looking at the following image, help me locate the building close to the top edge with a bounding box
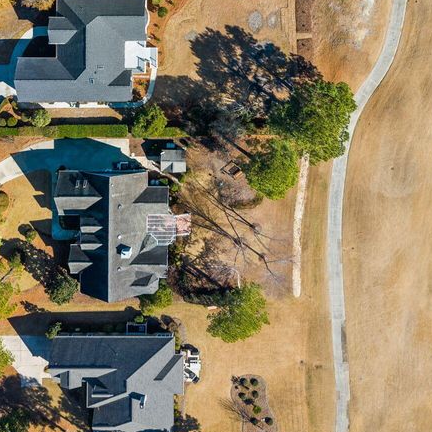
[8,0,157,102]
